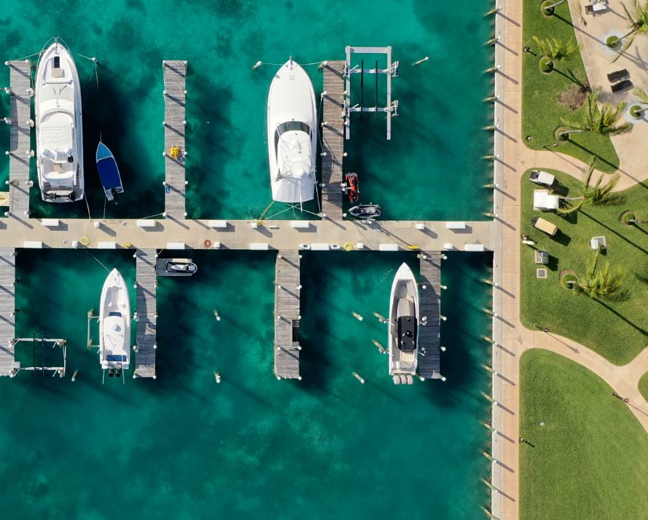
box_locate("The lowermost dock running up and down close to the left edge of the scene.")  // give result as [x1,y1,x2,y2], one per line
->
[0,248,16,375]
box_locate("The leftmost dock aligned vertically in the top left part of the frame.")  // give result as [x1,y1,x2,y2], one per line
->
[9,61,32,219]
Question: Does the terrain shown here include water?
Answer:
Yes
